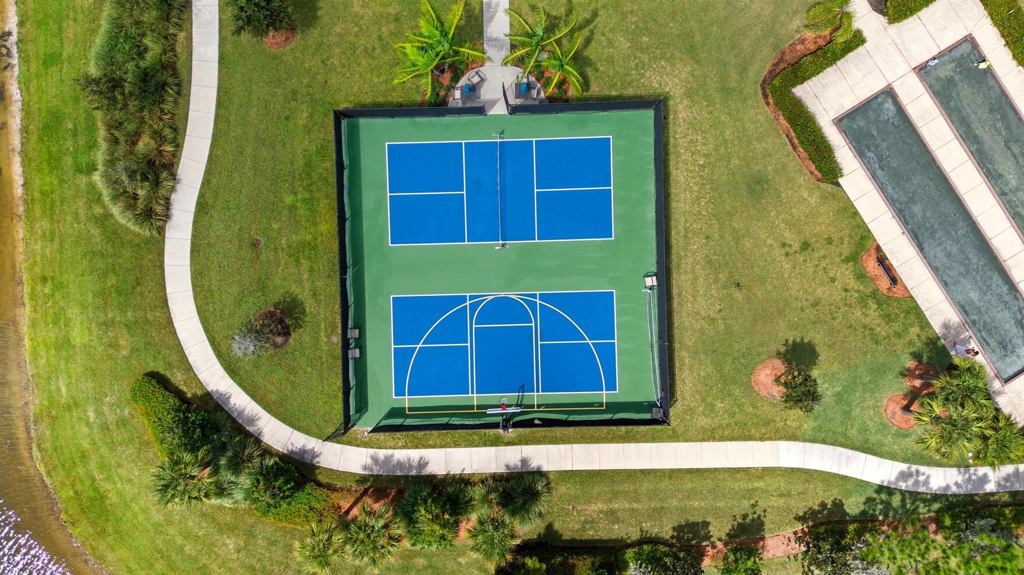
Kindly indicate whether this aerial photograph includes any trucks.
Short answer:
No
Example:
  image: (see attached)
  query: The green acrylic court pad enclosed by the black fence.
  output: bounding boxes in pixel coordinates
[342,109,662,430]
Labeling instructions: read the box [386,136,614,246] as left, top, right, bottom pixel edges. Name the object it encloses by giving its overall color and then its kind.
blue sports court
